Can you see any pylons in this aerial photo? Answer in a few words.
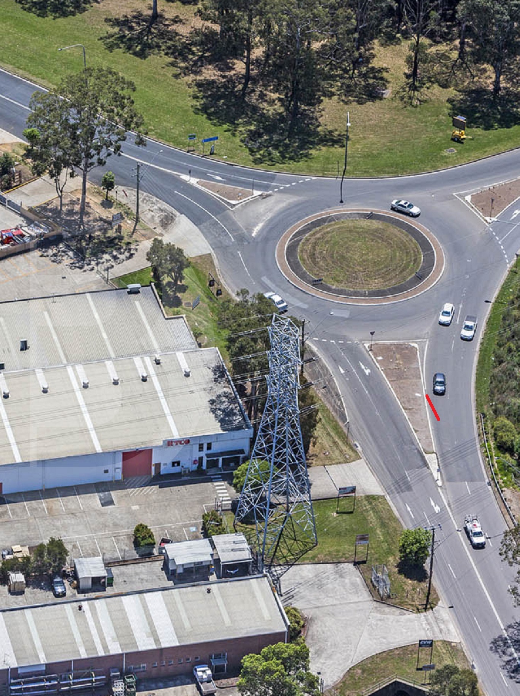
Yes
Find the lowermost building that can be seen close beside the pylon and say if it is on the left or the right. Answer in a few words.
left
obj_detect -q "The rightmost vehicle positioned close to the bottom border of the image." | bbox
[195,666,218,696]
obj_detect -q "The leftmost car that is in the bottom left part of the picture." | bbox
[50,569,69,596]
